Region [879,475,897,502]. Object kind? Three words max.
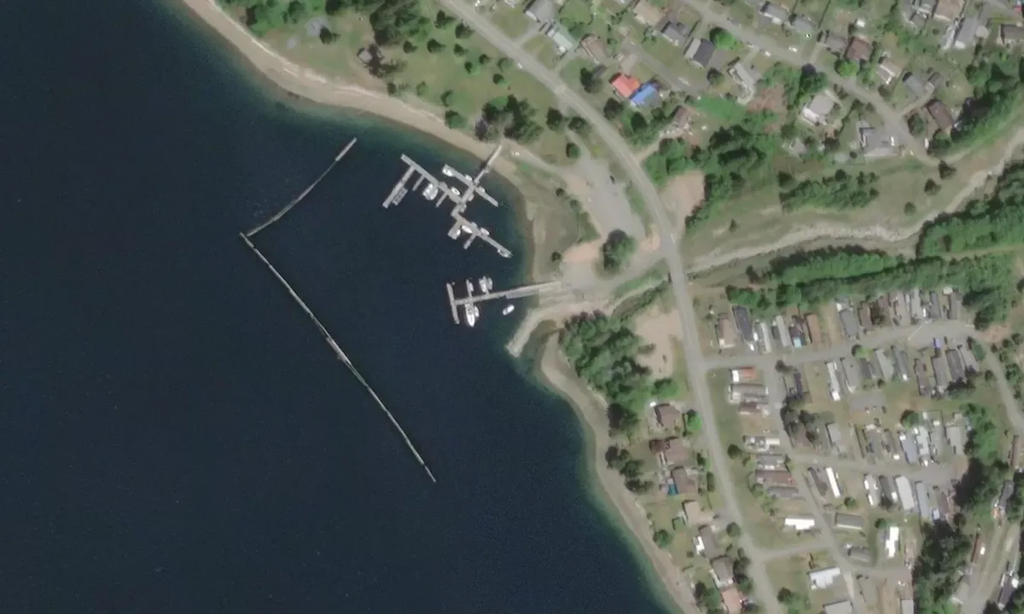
house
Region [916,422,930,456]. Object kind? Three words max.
house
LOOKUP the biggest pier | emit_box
[383,144,512,256]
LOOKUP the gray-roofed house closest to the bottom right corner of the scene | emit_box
[996,572,1019,609]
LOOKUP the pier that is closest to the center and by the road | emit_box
[446,277,561,324]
